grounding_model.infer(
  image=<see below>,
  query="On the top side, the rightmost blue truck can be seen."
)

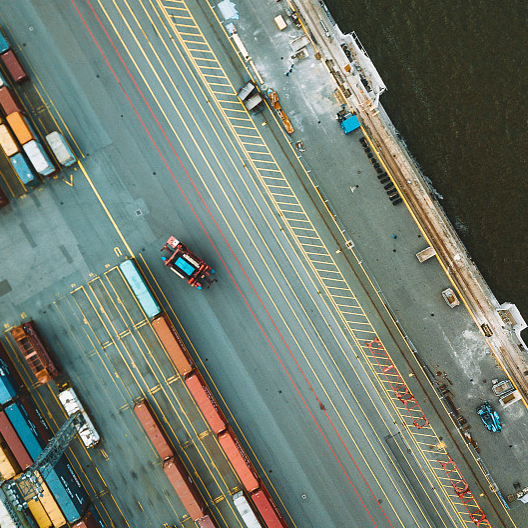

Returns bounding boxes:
[334,111,361,136]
